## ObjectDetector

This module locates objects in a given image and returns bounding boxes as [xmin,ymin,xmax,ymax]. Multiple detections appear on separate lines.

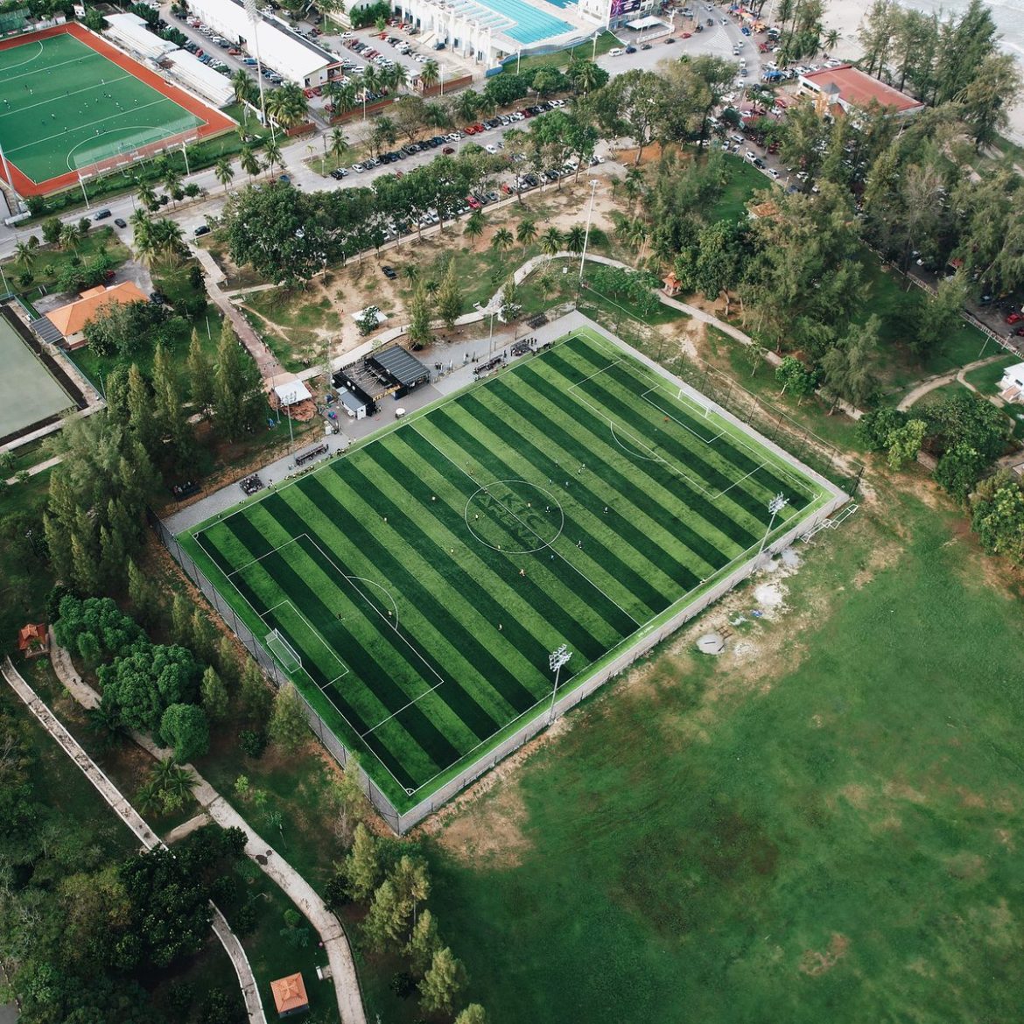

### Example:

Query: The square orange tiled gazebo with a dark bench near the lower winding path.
[270,974,310,1024]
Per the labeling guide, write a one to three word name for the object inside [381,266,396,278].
vehicle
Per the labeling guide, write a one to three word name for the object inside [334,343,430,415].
building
